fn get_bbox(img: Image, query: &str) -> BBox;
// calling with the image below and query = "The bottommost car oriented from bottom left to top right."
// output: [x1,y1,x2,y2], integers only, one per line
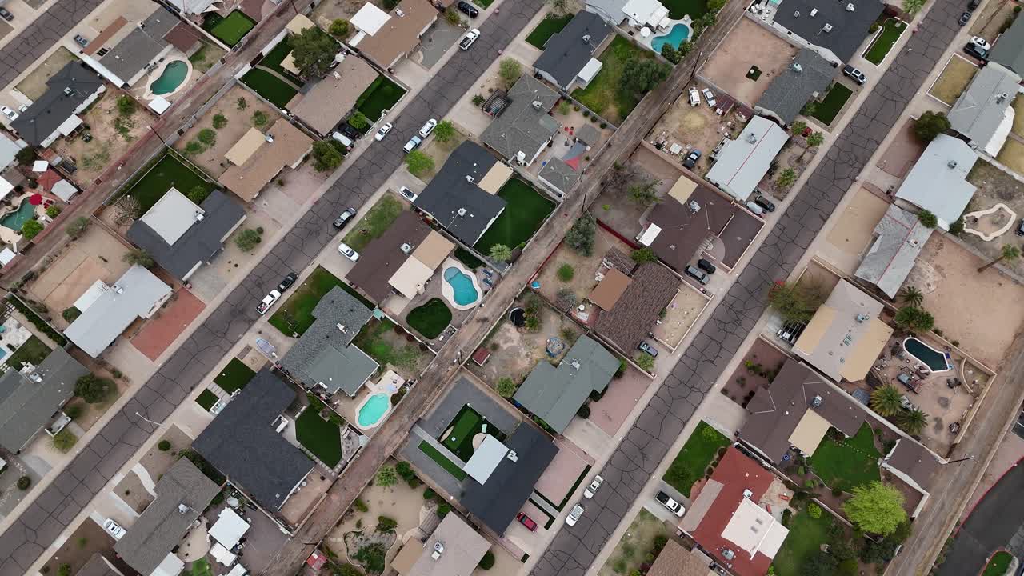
[565,502,584,527]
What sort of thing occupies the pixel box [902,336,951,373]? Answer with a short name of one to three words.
swimming pool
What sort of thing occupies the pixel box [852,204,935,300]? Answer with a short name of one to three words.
house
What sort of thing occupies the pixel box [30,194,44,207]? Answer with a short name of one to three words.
umbrella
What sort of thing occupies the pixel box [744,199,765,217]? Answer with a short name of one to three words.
car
